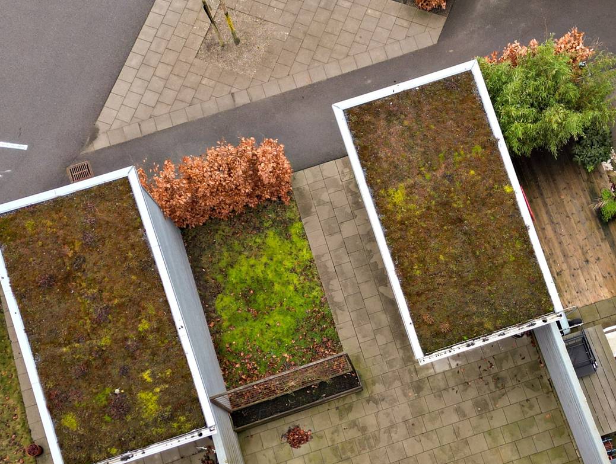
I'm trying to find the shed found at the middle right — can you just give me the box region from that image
[335,63,563,370]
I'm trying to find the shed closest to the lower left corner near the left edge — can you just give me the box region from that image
[0,165,229,464]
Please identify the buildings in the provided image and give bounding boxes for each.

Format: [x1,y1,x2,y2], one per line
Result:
[0,165,229,464]
[335,63,563,370]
